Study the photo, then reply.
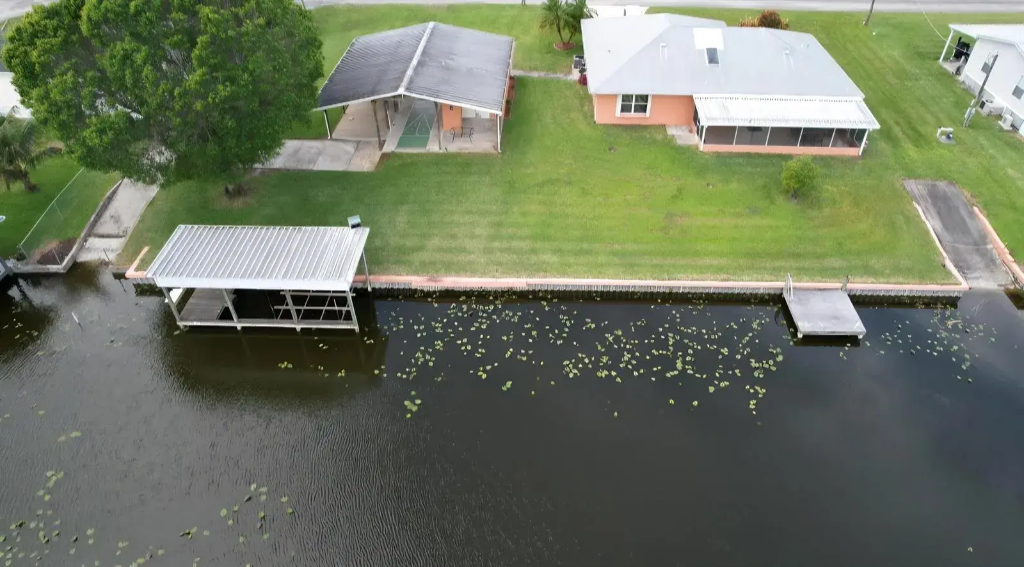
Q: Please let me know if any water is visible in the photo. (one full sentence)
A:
Yes, water can be seen from above here.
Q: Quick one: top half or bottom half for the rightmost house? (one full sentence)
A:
Seen from above, the rightmost house lies in the top half of the view.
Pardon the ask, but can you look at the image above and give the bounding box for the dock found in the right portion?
[781,275,869,345]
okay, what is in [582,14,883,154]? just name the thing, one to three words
house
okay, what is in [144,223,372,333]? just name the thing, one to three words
building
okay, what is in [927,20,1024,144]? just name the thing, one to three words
house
